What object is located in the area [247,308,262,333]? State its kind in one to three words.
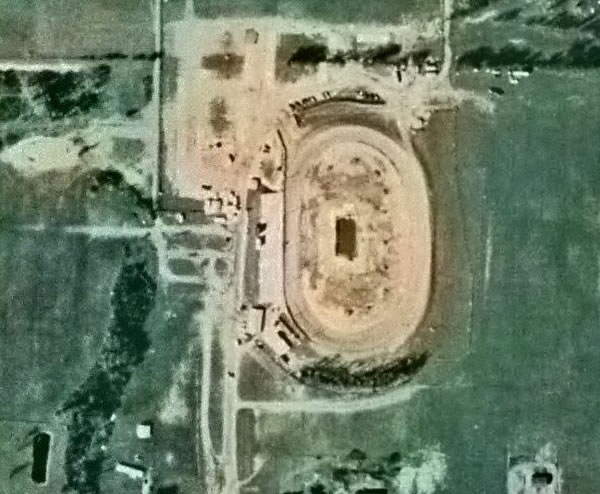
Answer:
building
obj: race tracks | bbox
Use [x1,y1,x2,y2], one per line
[285,114,442,369]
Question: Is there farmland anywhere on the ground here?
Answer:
Yes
